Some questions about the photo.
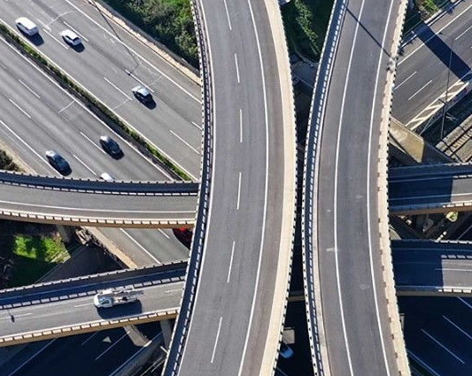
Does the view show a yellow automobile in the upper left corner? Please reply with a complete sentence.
No, I see no yellow automobile in the upper left corner.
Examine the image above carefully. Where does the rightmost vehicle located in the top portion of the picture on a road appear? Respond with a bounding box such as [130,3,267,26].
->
[132,87,155,105]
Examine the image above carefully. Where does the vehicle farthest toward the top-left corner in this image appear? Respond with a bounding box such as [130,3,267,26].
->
[17,19,39,36]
